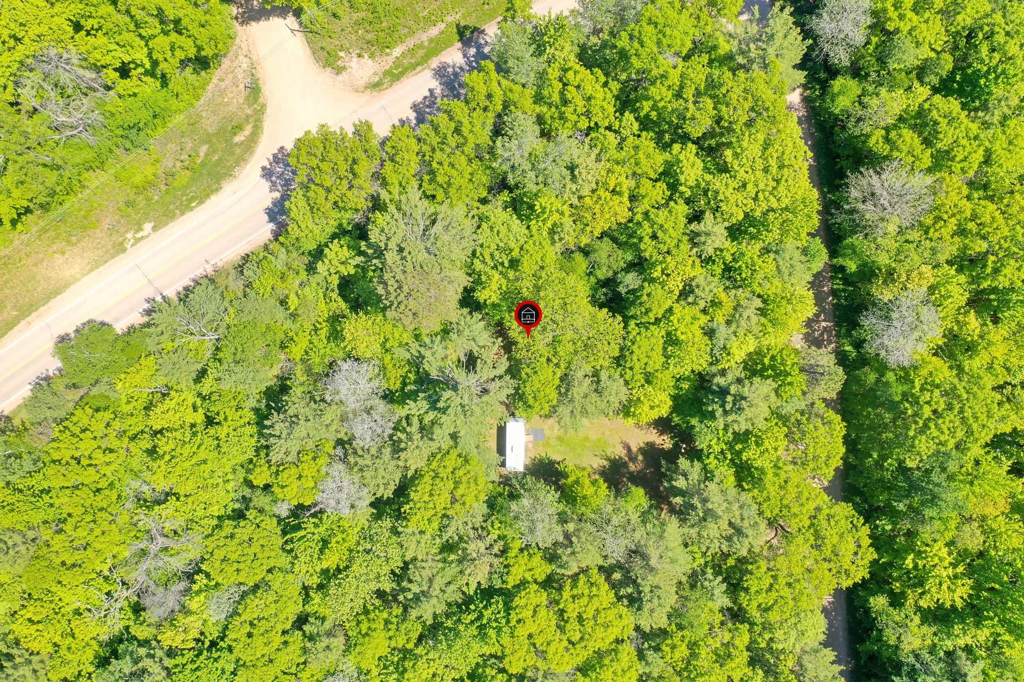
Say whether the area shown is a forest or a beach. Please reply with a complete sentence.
What you see here is a forest.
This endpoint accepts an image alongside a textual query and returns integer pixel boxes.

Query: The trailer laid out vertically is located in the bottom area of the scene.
[506,410,525,471]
